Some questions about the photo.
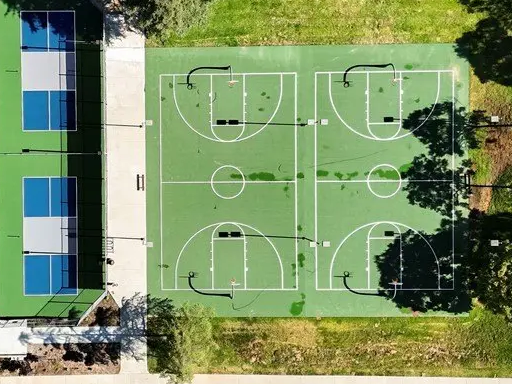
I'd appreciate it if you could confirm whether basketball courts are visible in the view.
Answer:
Yes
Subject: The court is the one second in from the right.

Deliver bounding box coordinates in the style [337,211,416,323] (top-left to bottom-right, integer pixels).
[146,45,308,317]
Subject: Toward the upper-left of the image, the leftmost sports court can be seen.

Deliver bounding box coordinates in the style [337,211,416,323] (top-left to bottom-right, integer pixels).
[0,0,105,153]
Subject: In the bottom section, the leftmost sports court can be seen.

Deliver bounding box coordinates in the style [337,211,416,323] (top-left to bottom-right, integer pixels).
[0,153,105,319]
